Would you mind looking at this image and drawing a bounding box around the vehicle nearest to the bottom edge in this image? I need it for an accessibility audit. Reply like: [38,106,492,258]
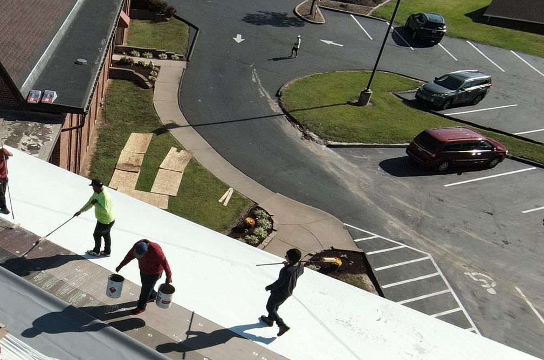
[405,122,517,172]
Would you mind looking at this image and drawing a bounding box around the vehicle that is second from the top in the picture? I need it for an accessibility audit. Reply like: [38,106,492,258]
[416,69,494,109]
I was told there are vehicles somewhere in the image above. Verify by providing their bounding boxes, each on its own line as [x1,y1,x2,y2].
[416,69,494,109]
[405,122,517,172]
[407,15,446,40]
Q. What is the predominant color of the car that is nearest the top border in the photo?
black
